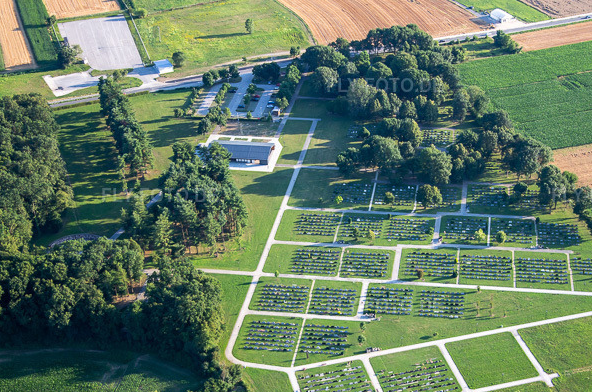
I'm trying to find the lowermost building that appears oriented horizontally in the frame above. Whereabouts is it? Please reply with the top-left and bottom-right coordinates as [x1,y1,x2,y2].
[213,135,276,165]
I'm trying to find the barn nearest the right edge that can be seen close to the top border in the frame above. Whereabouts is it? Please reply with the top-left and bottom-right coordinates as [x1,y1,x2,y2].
[484,8,517,26]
